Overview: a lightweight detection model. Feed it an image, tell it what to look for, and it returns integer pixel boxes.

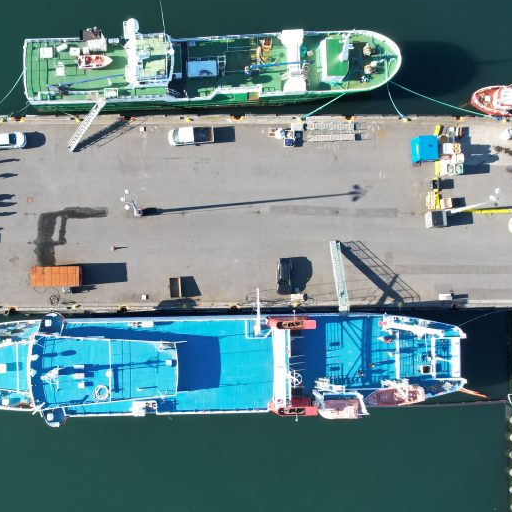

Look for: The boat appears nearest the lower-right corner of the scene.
[367,384,430,409]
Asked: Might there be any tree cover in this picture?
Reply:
No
